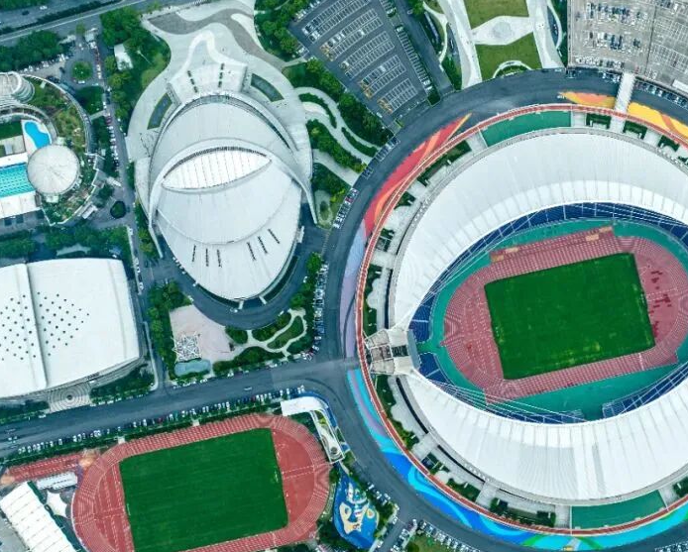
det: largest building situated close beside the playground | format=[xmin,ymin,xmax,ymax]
[280,389,350,463]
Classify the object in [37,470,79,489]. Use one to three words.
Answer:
building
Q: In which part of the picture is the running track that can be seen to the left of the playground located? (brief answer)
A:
bottom left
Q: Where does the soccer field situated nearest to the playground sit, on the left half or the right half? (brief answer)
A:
left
